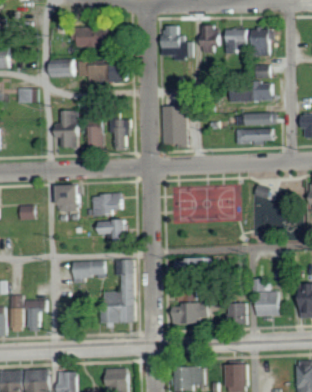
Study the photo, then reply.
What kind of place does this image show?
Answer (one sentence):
The picture captures a residential area.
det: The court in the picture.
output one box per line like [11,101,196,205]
[173,184,242,224]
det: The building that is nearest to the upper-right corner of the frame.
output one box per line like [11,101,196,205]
[248,28,272,56]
